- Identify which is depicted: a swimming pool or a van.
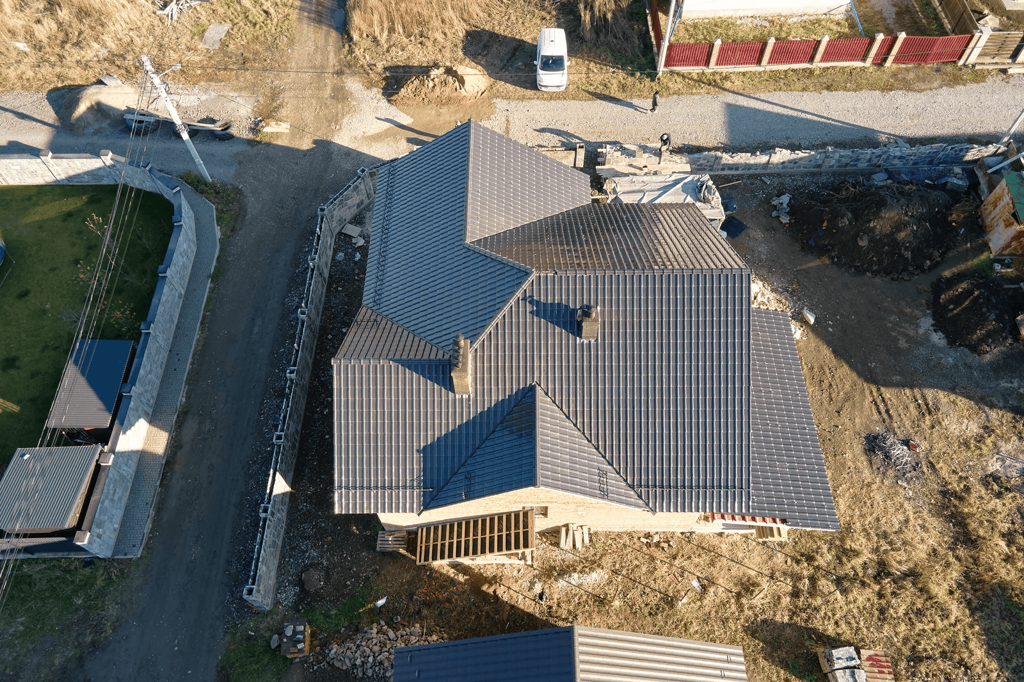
van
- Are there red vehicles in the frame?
No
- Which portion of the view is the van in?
top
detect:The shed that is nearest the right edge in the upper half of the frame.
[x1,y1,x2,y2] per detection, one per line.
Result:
[970,142,1024,264]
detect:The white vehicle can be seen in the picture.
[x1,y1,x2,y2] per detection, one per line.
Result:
[535,31,569,89]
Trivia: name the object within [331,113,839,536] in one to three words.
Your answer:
house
